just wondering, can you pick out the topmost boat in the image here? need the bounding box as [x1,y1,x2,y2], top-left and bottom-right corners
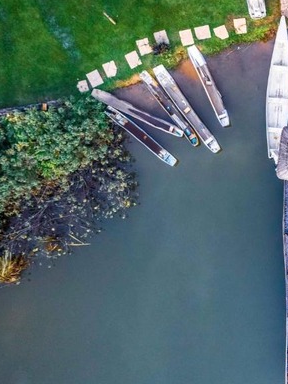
[248,0,267,19]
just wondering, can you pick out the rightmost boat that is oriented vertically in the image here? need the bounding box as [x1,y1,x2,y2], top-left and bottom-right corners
[267,15,288,168]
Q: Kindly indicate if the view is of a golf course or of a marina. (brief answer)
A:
marina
